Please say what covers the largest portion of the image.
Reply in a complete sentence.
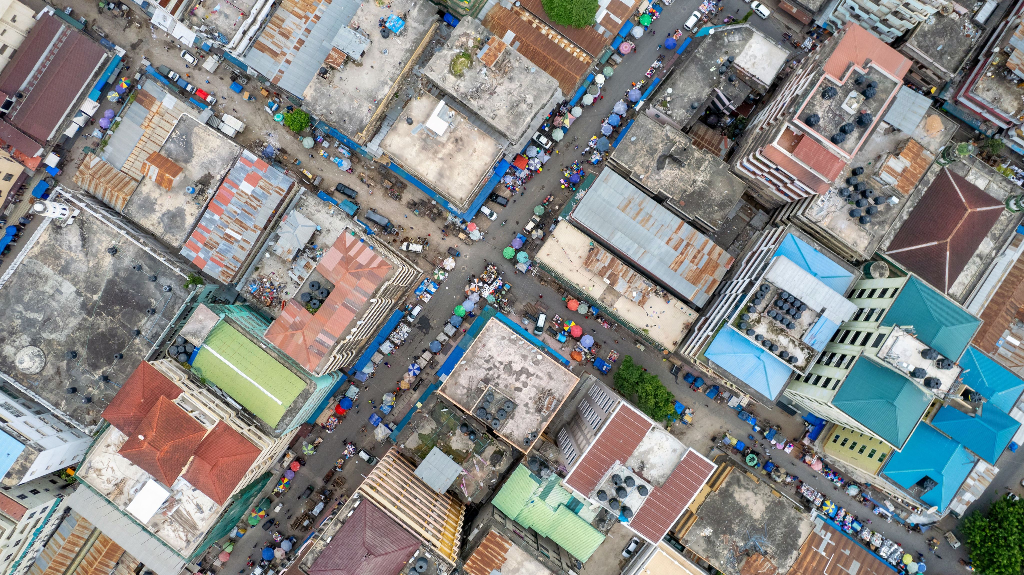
The bulk of the photo consists of buildings.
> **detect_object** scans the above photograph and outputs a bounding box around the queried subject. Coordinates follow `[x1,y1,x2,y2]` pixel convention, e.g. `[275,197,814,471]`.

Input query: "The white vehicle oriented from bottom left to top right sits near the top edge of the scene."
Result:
[683,11,701,32]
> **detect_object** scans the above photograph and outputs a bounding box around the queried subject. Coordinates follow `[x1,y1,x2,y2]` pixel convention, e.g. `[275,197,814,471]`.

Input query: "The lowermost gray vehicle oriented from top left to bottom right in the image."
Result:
[940,529,962,551]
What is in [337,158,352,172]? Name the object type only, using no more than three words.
umbrella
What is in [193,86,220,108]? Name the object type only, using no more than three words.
truck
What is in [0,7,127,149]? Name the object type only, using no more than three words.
building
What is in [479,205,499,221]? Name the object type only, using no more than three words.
car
